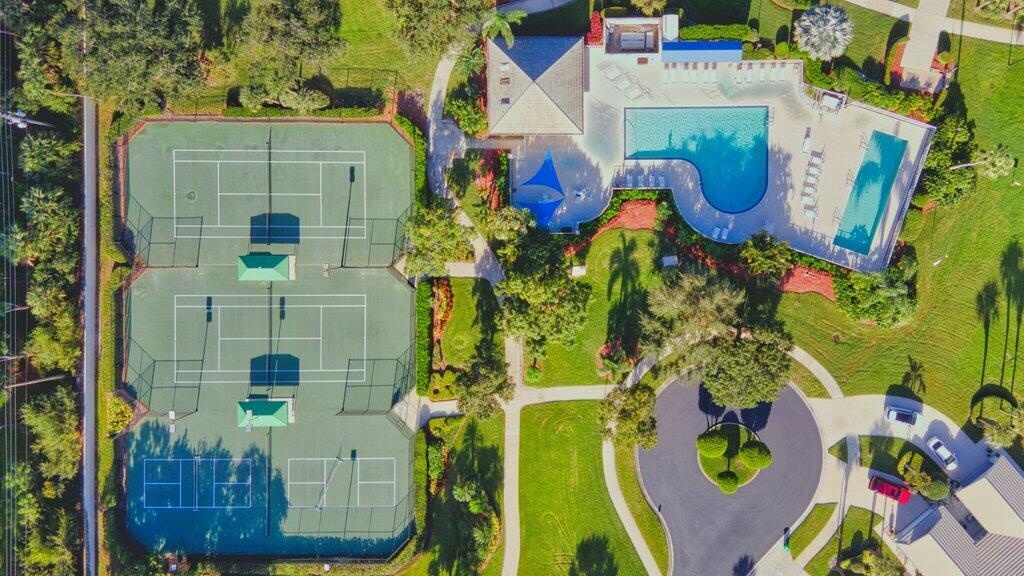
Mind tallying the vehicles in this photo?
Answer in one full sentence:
The count of vehicles comes to 3.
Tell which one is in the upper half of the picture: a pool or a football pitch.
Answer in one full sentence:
The feature located in the upper half of the picture is a pool.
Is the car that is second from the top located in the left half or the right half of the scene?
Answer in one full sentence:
The car that is second from the top sits on the right side.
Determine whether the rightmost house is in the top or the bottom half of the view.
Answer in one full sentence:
It is in the bottom half that the rightmost house appears.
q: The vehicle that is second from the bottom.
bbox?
[925,435,962,472]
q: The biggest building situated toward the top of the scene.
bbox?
[487,36,584,137]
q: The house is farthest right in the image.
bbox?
[892,456,1024,576]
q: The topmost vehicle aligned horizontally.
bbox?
[883,406,923,428]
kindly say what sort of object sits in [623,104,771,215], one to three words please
swimming pool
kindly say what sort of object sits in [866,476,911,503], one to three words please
car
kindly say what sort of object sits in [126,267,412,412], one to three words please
tennis court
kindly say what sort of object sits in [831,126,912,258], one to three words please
swimming pool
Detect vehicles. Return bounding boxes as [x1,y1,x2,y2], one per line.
[925,435,962,472]
[883,406,923,428]
[866,476,911,503]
